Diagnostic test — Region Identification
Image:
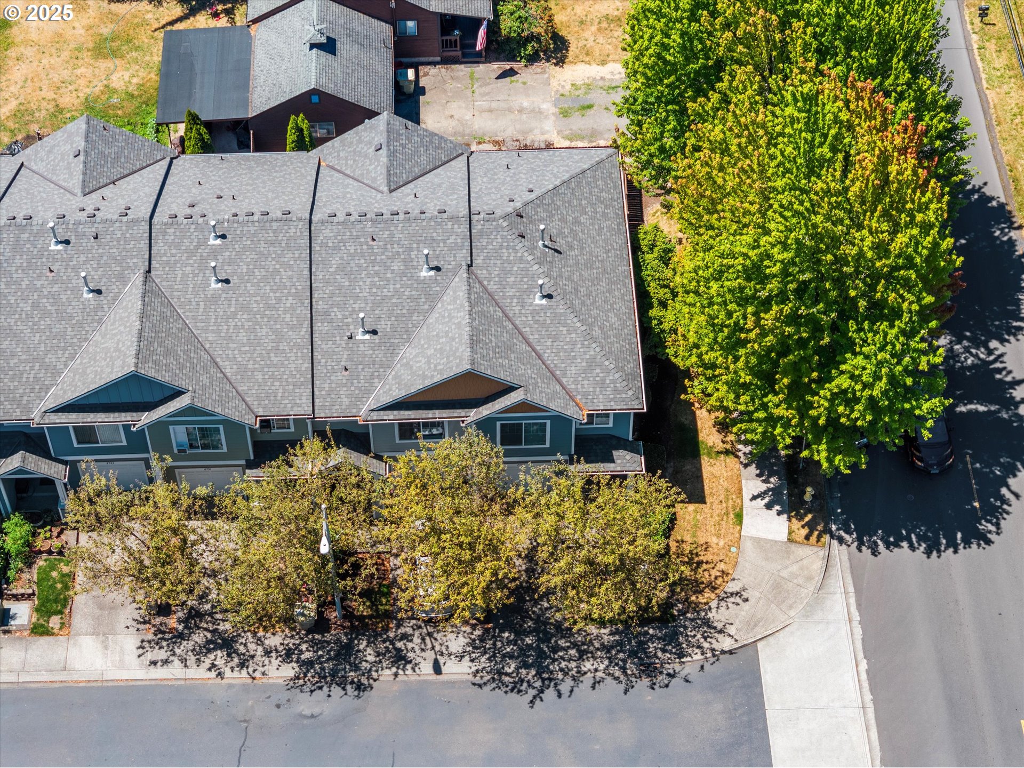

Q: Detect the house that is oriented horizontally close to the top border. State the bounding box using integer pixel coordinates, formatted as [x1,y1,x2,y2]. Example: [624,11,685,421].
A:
[155,0,493,154]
